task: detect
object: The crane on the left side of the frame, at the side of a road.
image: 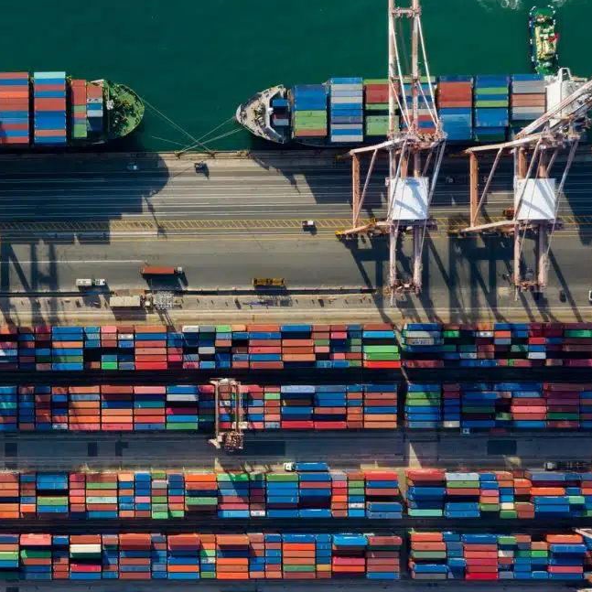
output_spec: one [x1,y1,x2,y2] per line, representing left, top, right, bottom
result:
[204,374,248,453]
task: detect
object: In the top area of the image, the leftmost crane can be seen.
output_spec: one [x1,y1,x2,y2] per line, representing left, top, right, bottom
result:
[326,0,453,301]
